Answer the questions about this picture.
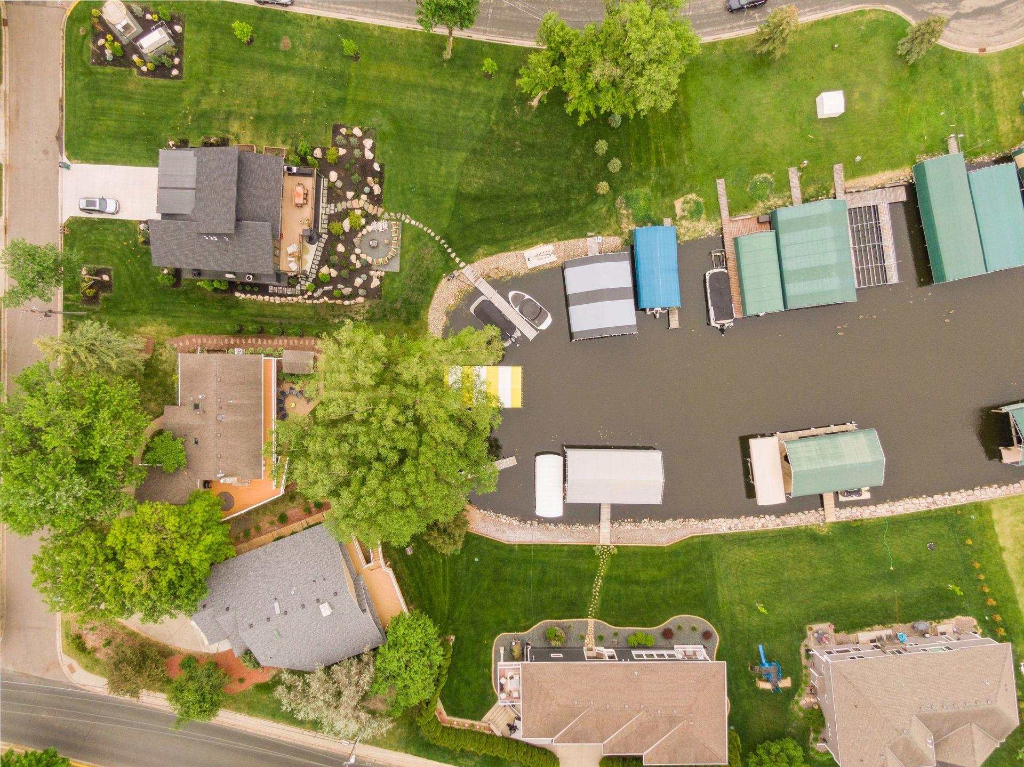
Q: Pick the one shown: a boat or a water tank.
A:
boat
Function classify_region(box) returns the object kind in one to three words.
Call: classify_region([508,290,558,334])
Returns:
boat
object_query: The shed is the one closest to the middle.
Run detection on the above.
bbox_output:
[282,350,318,374]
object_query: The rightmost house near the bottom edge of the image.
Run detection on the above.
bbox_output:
[804,627,1019,767]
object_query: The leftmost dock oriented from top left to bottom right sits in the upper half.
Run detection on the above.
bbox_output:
[460,264,540,341]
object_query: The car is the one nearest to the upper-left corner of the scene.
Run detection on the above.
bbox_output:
[74,194,117,213]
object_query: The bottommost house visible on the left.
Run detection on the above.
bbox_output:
[192,519,408,671]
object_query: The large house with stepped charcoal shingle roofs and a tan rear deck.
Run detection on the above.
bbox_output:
[148,146,323,286]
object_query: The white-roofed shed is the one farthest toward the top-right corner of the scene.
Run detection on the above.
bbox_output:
[815,90,845,118]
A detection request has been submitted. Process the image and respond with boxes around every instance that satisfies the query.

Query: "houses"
[135,353,288,522]
[481,633,728,765]
[148,146,323,286]
[804,627,1019,767]
[192,519,408,671]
